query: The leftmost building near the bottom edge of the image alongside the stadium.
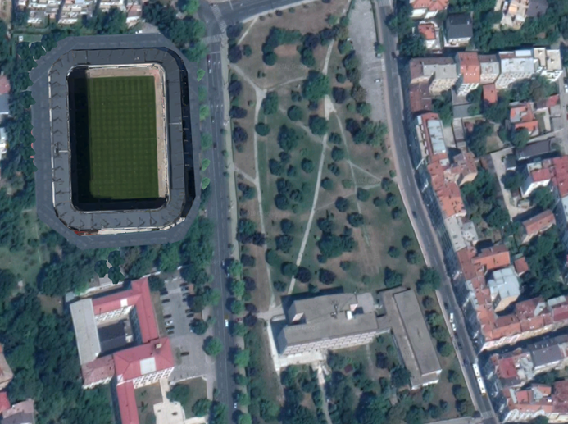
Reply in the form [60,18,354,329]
[69,279,174,424]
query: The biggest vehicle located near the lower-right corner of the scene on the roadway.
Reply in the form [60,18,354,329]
[474,365,486,392]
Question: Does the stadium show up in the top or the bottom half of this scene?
top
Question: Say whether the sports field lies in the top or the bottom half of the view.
top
